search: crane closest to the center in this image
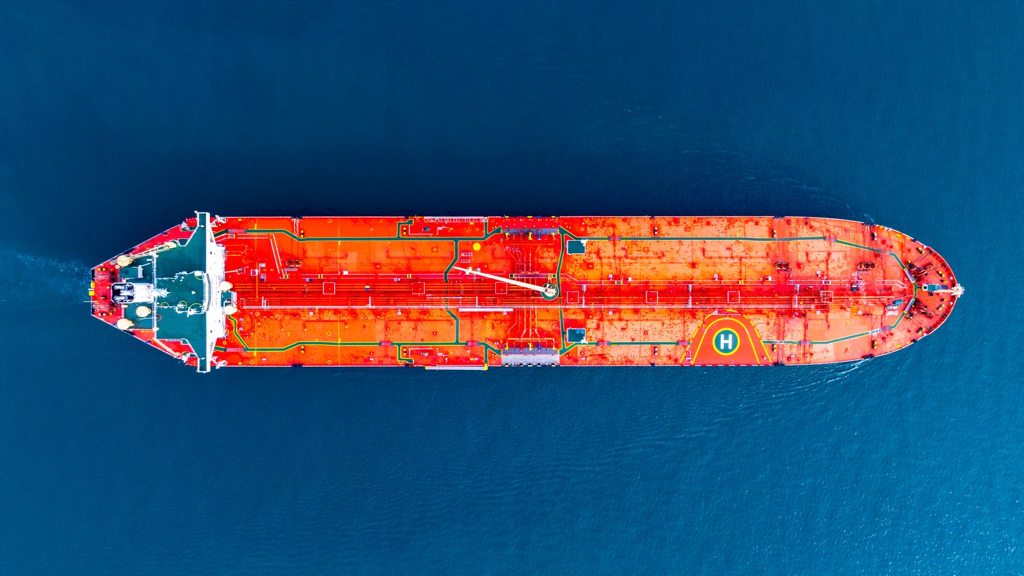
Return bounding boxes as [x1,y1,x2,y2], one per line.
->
[454,264,559,300]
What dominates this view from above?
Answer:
water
